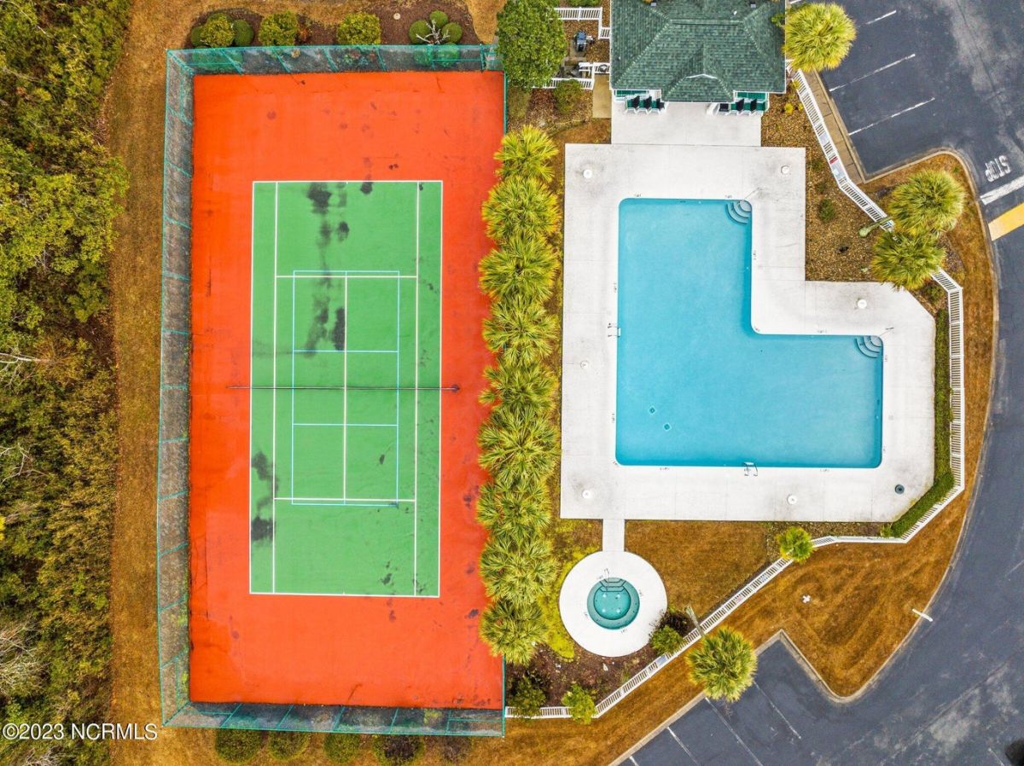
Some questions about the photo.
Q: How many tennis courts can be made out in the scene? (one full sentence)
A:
Altogether the scene contains 1 tennis court.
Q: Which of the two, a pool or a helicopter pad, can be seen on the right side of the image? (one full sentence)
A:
The feature located on the right side of the image is a pool.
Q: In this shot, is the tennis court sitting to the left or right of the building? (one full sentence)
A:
Relative to the building, the tennis court lies to the left.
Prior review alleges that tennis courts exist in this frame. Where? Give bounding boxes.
[189,71,504,710]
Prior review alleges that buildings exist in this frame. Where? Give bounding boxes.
[612,0,786,117]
